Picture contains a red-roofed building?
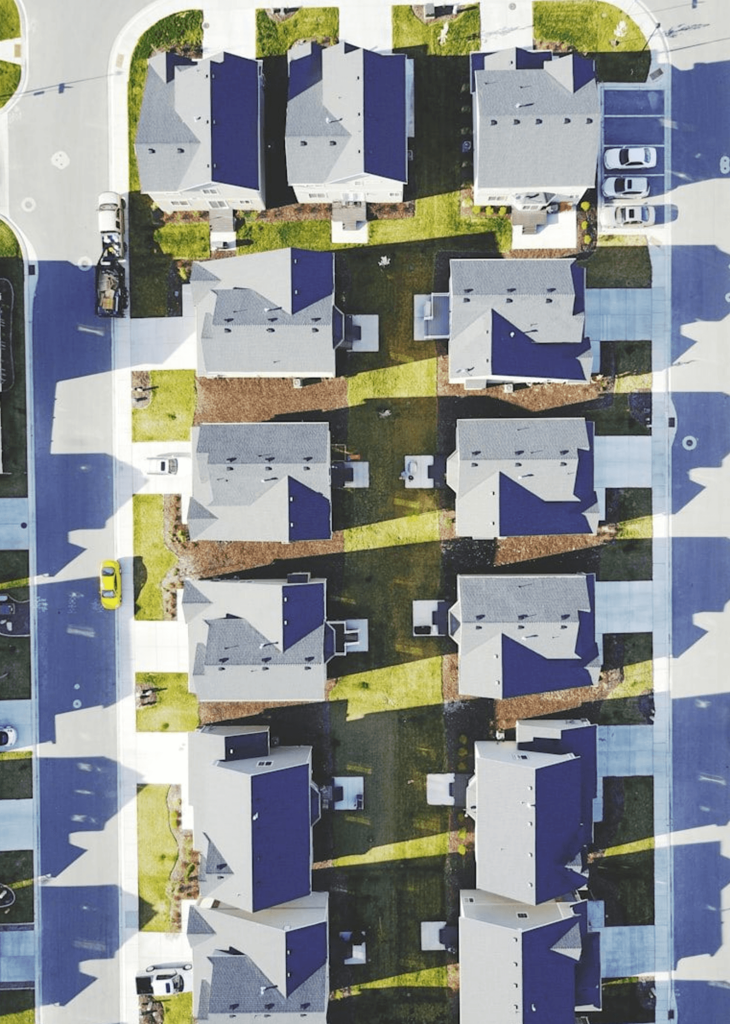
No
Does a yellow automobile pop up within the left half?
Yes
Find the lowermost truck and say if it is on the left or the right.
left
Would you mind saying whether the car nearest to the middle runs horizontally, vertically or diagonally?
horizontally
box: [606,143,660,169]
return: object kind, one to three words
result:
car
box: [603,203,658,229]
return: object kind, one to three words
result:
car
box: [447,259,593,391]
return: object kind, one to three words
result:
house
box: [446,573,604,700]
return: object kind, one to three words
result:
house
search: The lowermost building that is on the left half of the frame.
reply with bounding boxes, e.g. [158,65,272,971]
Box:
[187,895,328,1024]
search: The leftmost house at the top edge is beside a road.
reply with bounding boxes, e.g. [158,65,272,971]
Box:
[135,51,263,209]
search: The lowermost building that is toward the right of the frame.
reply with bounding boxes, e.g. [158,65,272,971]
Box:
[456,891,601,1024]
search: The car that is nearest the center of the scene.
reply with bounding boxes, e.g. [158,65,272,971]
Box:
[136,455,190,480]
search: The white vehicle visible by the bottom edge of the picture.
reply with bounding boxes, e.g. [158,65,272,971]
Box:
[128,966,191,999]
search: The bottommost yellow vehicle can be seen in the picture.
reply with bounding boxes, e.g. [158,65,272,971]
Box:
[96,559,121,609]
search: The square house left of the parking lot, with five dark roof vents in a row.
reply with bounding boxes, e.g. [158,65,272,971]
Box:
[470,47,601,210]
